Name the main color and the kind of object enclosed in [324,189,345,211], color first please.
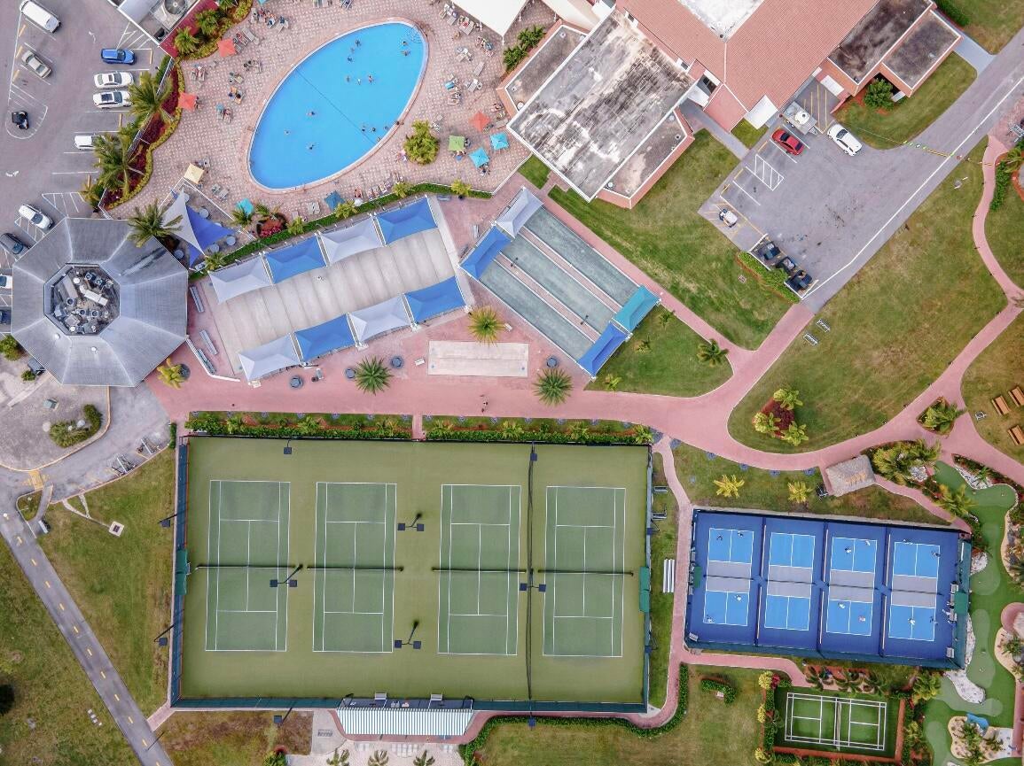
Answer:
blue umbrella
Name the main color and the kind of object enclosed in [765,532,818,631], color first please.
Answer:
blue sports court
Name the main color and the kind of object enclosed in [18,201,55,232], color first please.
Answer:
white car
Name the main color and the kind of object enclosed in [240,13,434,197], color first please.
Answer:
blue swimming pool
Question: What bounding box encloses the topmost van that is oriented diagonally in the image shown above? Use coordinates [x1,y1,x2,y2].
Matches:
[13,0,69,40]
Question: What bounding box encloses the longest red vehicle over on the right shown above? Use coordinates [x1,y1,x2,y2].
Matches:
[769,127,805,157]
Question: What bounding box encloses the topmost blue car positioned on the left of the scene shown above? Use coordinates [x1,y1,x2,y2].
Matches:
[100,46,137,66]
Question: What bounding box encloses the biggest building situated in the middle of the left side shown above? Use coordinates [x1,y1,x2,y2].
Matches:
[10,217,189,387]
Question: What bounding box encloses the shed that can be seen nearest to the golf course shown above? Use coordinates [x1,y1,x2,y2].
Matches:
[821,455,874,497]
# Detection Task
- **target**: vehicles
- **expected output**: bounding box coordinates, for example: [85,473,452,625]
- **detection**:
[718,211,738,226]
[11,108,31,130]
[95,89,133,108]
[0,229,31,257]
[97,70,134,88]
[769,127,805,157]
[28,359,45,373]
[757,244,777,262]
[74,132,111,150]
[0,273,11,290]
[100,46,137,66]
[776,254,798,272]
[20,50,56,80]
[0,310,10,324]
[788,272,810,291]
[825,124,862,155]
[18,201,55,232]
[13,0,69,40]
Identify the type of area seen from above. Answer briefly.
sports ground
